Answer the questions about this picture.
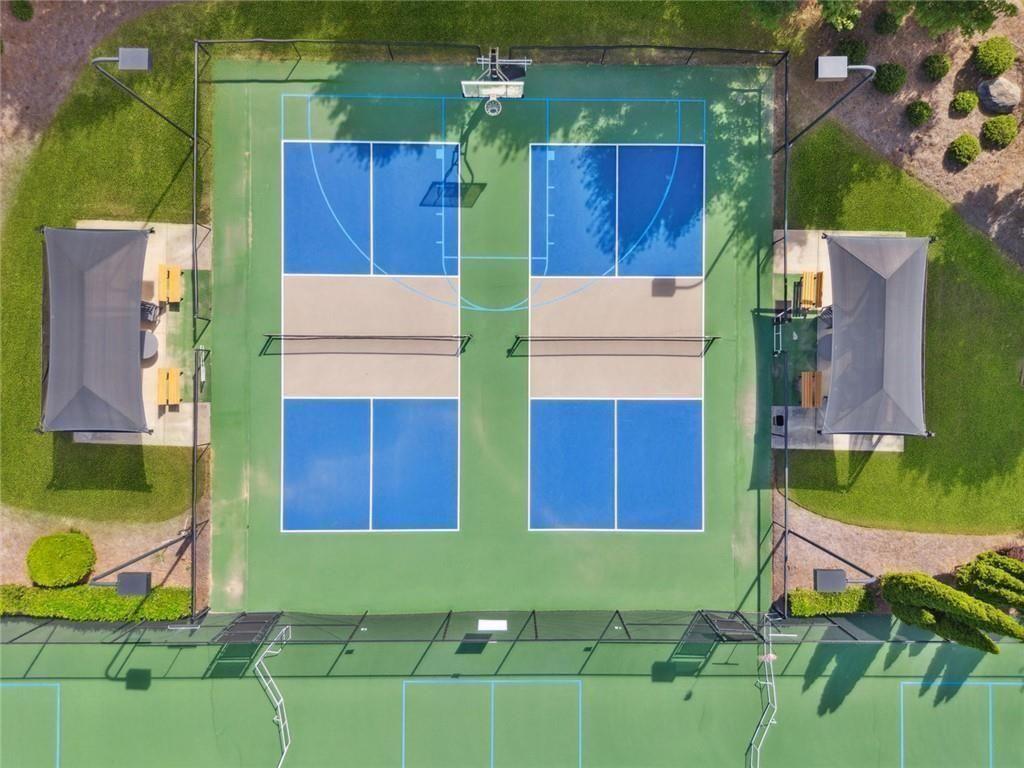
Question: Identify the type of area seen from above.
sports ground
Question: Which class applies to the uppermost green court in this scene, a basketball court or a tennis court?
basketball court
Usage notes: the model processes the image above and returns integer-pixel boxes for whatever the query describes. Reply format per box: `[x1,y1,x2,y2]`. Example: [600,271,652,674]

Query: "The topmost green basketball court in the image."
[211,60,774,612]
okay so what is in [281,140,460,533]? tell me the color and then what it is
blue sports court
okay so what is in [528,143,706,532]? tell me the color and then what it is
blue sports court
